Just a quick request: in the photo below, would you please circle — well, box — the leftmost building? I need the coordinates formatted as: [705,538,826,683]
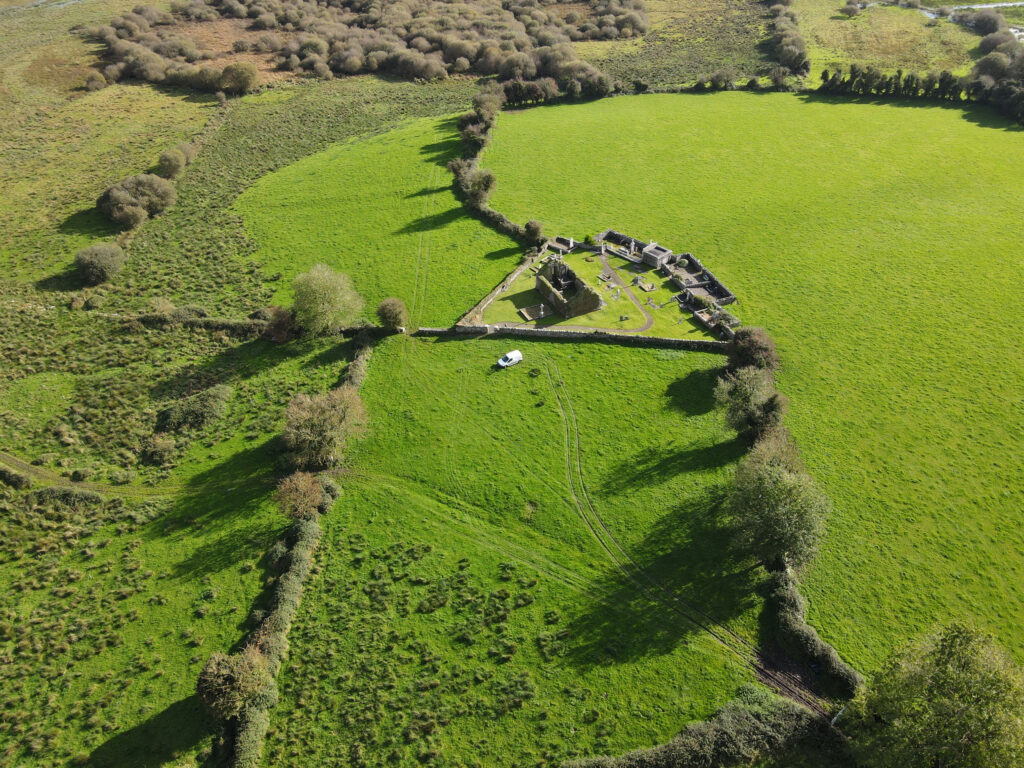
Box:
[536,257,603,317]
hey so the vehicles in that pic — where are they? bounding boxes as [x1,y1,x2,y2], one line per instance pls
[496,347,524,367]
